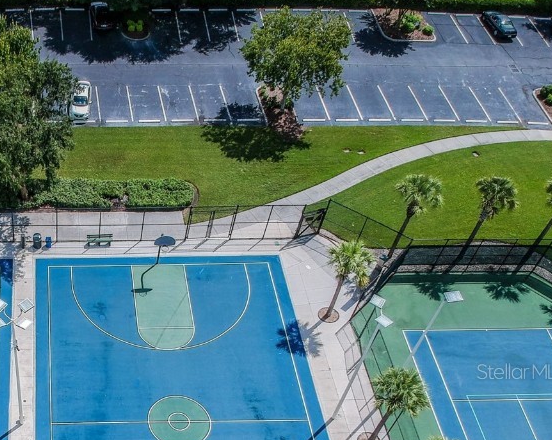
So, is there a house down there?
No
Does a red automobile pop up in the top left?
No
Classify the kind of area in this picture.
sports ground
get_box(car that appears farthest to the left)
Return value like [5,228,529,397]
[68,80,94,118]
